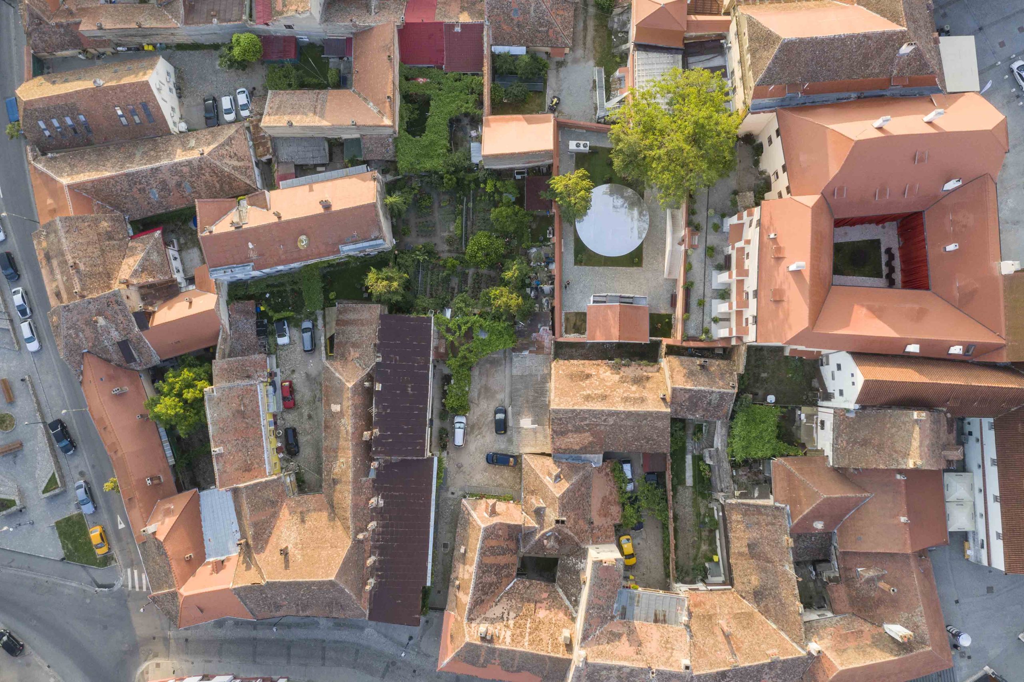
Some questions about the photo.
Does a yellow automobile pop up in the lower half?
Yes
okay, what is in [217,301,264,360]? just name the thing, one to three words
house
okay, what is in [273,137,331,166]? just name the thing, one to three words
shed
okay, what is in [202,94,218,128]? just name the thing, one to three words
car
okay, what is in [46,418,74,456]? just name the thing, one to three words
truck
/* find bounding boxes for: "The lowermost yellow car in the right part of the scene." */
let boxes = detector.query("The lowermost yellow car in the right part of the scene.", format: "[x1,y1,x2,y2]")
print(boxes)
[620,535,637,568]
